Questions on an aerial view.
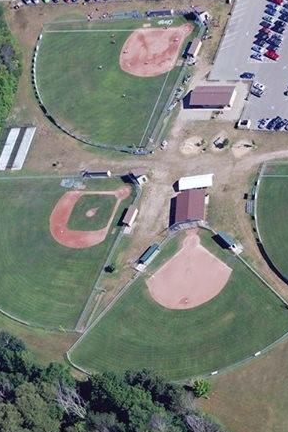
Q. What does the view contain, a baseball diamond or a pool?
baseball diamond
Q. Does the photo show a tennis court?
No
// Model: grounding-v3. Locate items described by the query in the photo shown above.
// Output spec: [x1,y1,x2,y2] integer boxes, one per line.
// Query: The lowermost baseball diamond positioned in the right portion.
[67,222,288,382]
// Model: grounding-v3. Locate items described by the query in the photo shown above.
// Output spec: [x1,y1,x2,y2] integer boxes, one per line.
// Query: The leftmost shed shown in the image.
[0,128,21,172]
